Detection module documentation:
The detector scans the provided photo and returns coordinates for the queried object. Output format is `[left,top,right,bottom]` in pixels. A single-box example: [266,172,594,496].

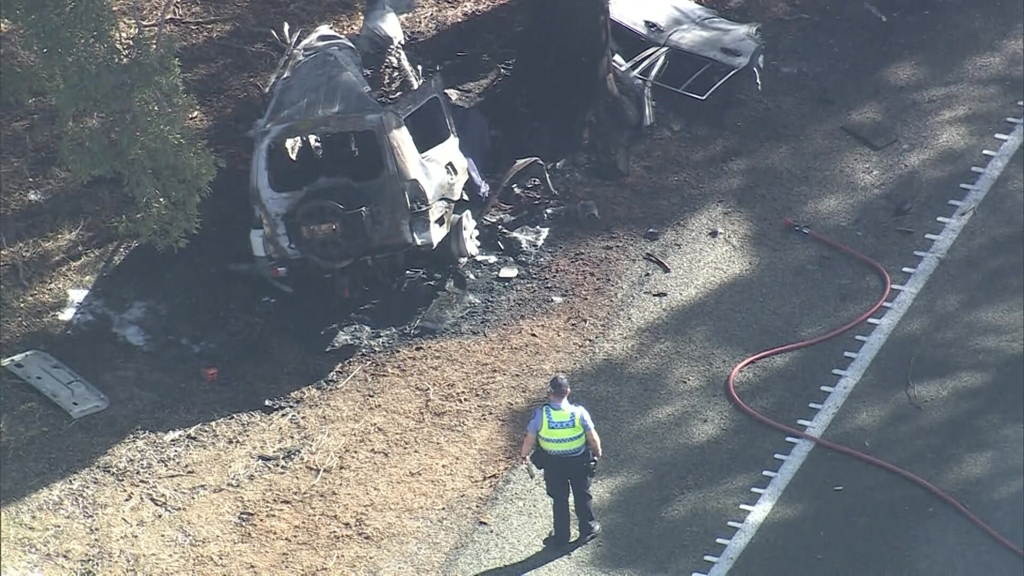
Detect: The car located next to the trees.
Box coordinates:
[251,23,484,298]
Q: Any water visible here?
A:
No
